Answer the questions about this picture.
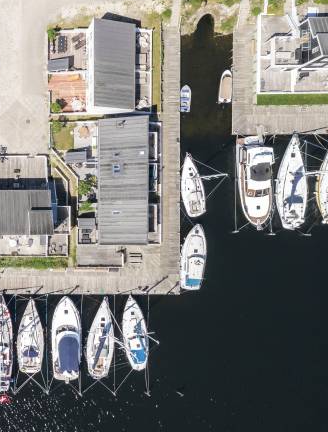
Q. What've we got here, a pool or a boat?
boat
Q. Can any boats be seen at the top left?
No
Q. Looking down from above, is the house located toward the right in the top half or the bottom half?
top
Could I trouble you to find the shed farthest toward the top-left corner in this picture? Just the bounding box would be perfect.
[47,57,69,73]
